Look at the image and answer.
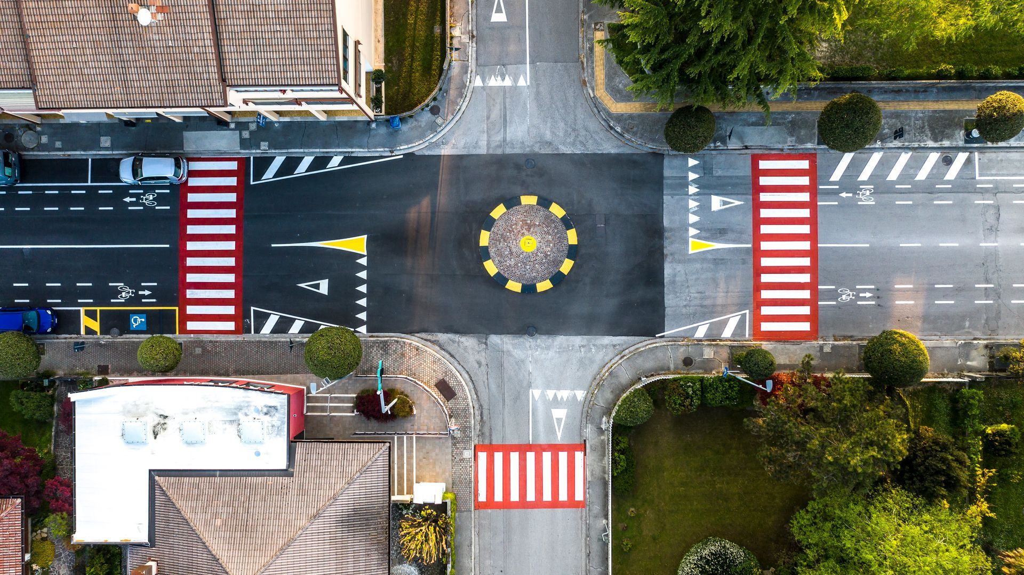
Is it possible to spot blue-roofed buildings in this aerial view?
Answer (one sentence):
No, the scene contains no blue-roofed building.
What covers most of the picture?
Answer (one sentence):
The bulk of the photo consists of paved ground.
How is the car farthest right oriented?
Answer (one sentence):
In this picture, the car farthest right is oriented from side to side.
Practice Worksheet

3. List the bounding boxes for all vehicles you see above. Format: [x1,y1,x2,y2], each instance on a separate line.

[0,304,60,335]
[120,151,189,186]
[0,151,28,184]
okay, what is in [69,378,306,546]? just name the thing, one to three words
building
